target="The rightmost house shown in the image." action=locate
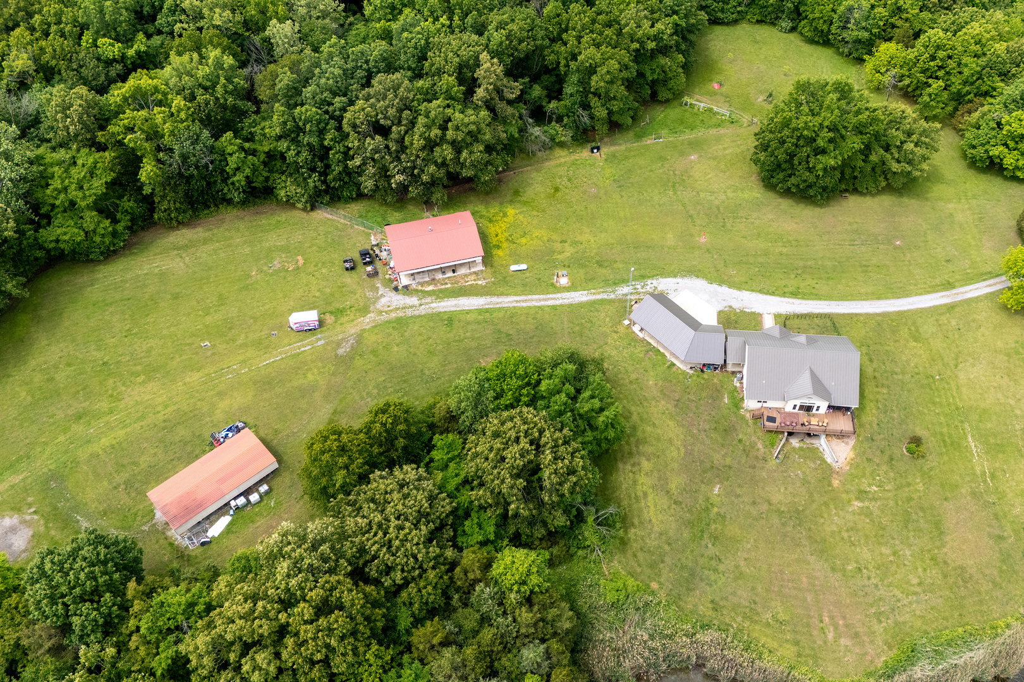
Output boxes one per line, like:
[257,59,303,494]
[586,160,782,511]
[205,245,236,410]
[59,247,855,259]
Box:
[721,320,862,419]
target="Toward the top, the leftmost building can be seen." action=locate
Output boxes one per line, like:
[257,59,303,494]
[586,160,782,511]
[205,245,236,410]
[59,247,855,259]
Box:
[384,212,484,286]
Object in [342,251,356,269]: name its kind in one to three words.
vehicle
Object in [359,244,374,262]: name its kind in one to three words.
vehicle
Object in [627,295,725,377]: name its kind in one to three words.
building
